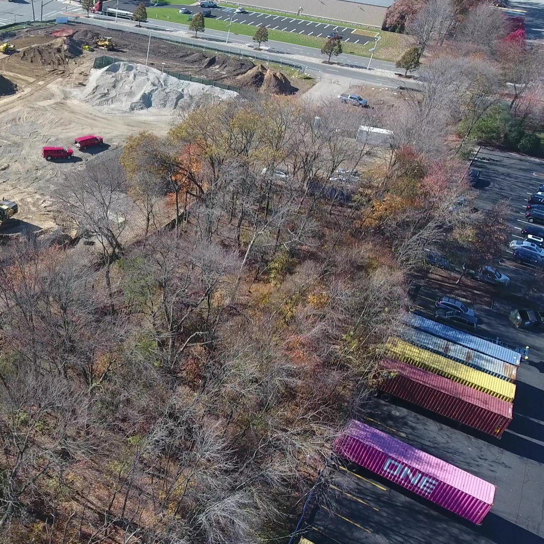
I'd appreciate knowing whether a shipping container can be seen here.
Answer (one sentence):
Yes, the frame does contain a shipping container.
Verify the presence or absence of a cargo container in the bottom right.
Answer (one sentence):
Yes, in the bottom right there is a cargo container.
